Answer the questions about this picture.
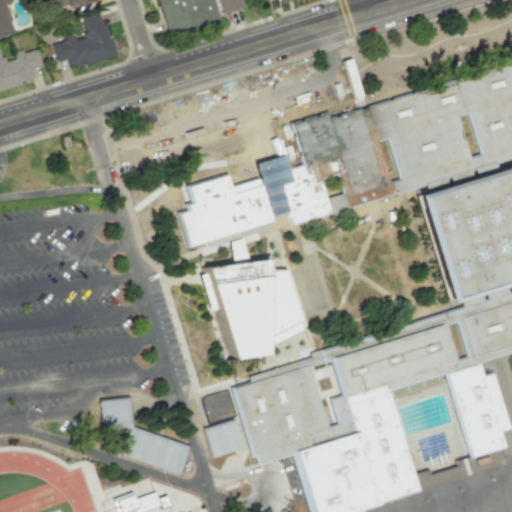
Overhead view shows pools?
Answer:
Yes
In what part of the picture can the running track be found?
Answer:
bottom left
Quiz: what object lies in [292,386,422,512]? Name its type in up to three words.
building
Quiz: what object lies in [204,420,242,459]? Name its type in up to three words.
shed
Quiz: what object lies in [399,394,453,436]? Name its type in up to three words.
swimming pool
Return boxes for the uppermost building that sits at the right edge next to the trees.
[366,66,512,194]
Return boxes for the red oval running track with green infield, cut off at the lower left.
[0,454,96,512]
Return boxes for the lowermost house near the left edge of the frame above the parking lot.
[0,44,47,94]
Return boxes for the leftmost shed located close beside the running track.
[100,396,190,475]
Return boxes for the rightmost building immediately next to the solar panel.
[444,365,512,460]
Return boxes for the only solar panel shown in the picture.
[420,434,449,460]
